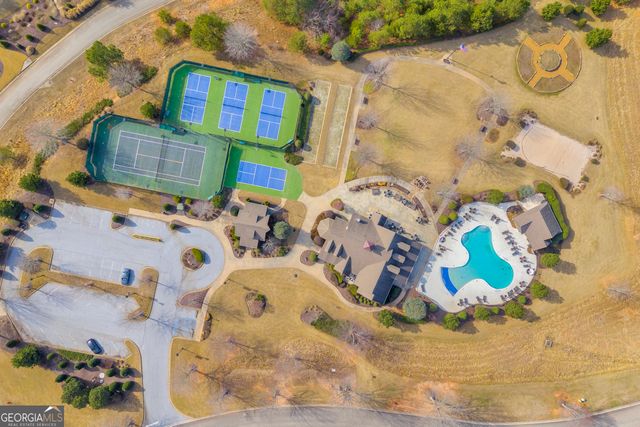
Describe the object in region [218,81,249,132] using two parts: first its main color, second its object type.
blue sports court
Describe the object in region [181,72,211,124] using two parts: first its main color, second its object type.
blue sports court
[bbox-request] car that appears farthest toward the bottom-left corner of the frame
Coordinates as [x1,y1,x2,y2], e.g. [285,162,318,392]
[86,339,101,355]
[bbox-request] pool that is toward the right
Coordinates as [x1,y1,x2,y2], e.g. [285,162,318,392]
[416,201,538,312]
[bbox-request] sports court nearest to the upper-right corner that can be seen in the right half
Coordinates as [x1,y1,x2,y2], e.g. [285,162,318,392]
[511,124,589,184]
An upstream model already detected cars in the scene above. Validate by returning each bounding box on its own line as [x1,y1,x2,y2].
[119,268,129,286]
[86,339,101,355]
